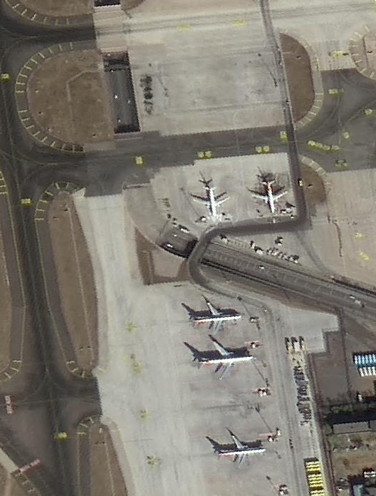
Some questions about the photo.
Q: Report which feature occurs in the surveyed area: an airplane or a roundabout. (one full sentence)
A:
It is an airplane that can be seen here.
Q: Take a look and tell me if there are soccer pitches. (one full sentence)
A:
No, no soccer pitch can be seen from above.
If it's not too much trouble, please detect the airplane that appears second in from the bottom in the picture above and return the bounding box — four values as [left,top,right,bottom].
[199,343,254,380]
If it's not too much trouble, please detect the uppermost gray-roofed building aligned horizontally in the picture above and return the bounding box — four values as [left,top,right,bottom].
[333,421,369,433]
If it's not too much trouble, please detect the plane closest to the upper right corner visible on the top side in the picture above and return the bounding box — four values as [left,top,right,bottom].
[251,180,289,214]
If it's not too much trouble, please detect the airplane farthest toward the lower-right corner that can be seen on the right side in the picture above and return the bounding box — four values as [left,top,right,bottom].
[215,434,265,470]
